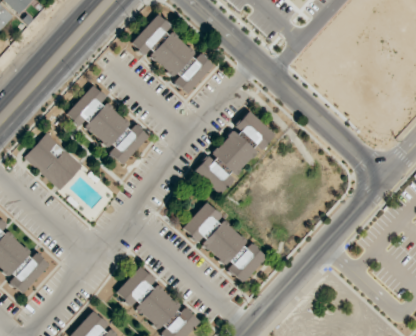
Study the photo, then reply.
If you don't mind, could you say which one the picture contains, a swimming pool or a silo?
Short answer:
swimming pool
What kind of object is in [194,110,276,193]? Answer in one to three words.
building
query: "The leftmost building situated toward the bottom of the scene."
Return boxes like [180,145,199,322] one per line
[0,220,48,295]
